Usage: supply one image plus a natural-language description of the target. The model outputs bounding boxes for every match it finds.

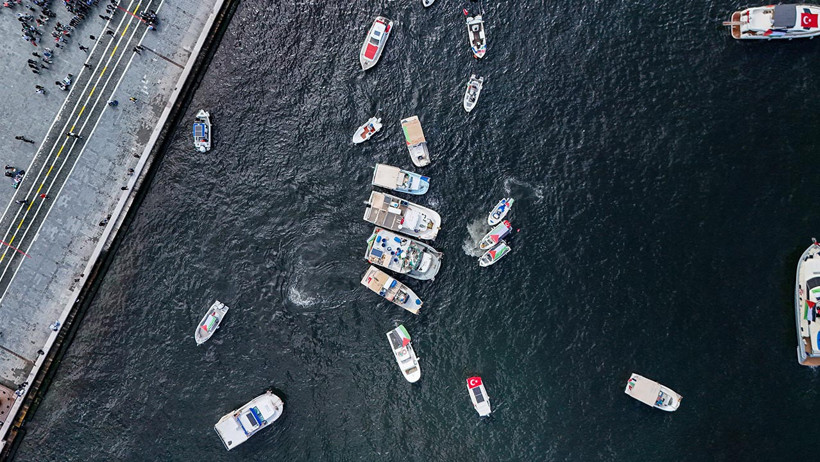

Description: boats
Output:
[361,265,424,313]
[465,16,487,58]
[488,197,511,225]
[722,3,820,42]
[365,226,445,281]
[194,109,212,152]
[401,115,427,167]
[362,191,442,239]
[467,375,491,417]
[215,392,286,450]
[621,372,681,409]
[480,241,511,266]
[465,74,483,112]
[196,301,229,345]
[480,220,512,249]
[372,164,431,192]
[790,237,820,365]
[386,322,420,384]
[362,16,392,70]
[353,118,381,143]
